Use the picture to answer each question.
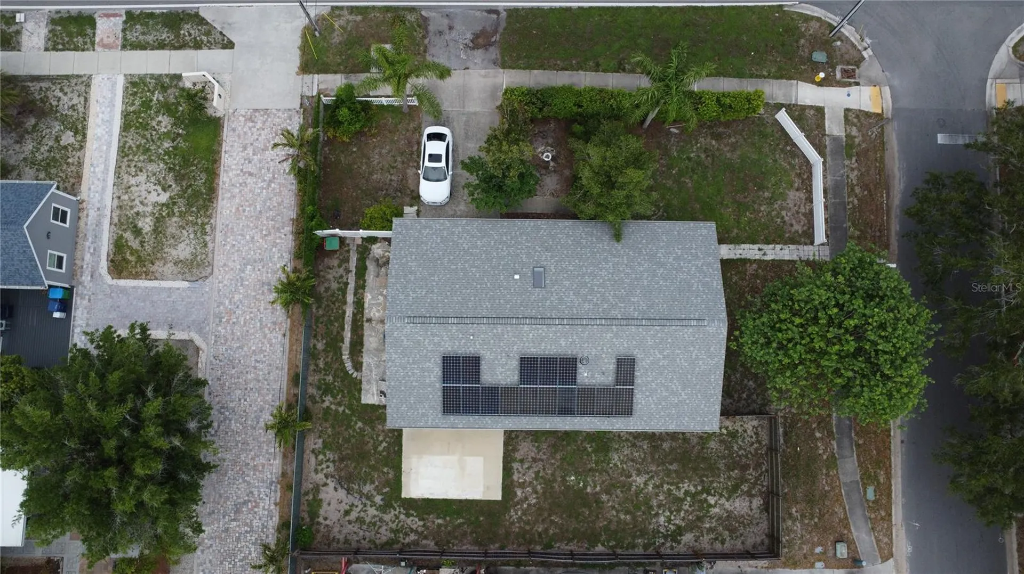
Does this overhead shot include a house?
Yes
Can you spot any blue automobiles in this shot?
No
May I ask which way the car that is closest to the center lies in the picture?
vertically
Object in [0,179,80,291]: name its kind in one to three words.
house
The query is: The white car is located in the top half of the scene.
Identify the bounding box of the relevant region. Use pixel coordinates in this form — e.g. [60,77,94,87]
[418,127,453,205]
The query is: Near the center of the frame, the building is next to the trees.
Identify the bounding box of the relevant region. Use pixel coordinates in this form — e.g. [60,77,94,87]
[385,217,726,431]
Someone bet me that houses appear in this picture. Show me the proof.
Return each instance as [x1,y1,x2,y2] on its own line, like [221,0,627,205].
[385,217,726,431]
[0,179,80,291]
